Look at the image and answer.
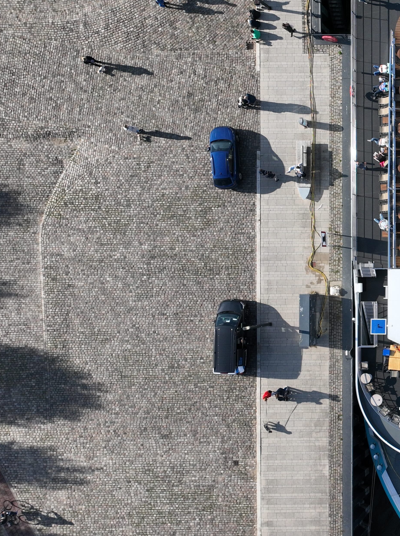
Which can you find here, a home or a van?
van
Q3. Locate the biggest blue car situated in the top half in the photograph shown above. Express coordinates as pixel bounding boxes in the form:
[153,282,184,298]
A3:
[206,129,244,193]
